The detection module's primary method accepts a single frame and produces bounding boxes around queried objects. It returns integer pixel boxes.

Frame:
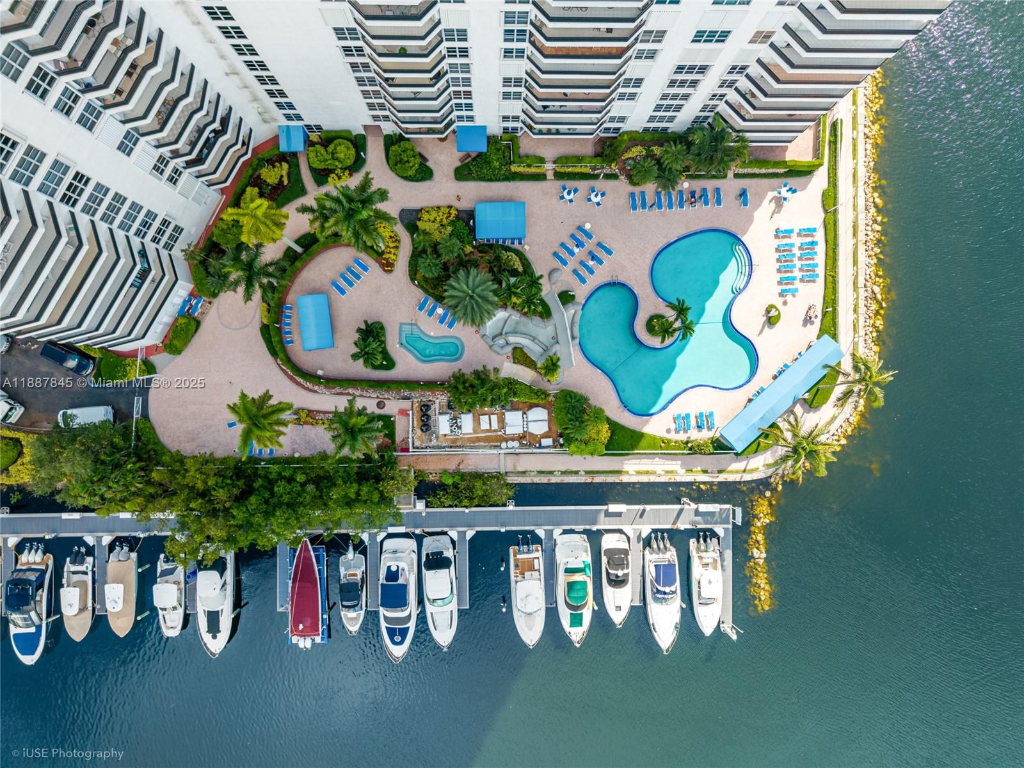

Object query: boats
[155,540,189,640]
[599,531,633,630]
[290,538,327,649]
[686,524,724,639]
[196,543,241,660]
[9,537,64,667]
[421,530,460,652]
[338,538,368,637]
[509,529,548,650]
[640,531,682,657]
[378,531,421,666]
[108,539,145,640]
[554,530,595,649]
[64,541,100,644]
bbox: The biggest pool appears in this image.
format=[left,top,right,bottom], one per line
[577,225,763,419]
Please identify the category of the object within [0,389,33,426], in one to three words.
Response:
truck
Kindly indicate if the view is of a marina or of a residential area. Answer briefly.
marina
